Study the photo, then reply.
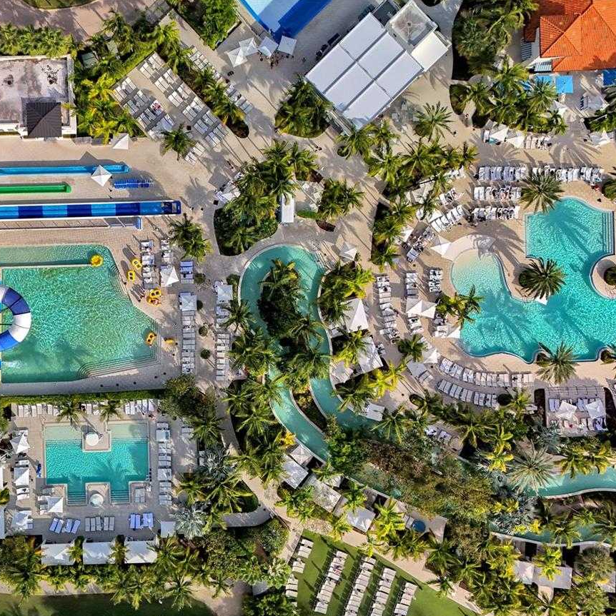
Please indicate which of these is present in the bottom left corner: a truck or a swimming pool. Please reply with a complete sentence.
There is a swimming pool in the bottom left corner.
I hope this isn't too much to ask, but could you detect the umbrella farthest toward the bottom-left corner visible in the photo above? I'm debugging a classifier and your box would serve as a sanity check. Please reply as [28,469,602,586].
[11,508,32,530]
